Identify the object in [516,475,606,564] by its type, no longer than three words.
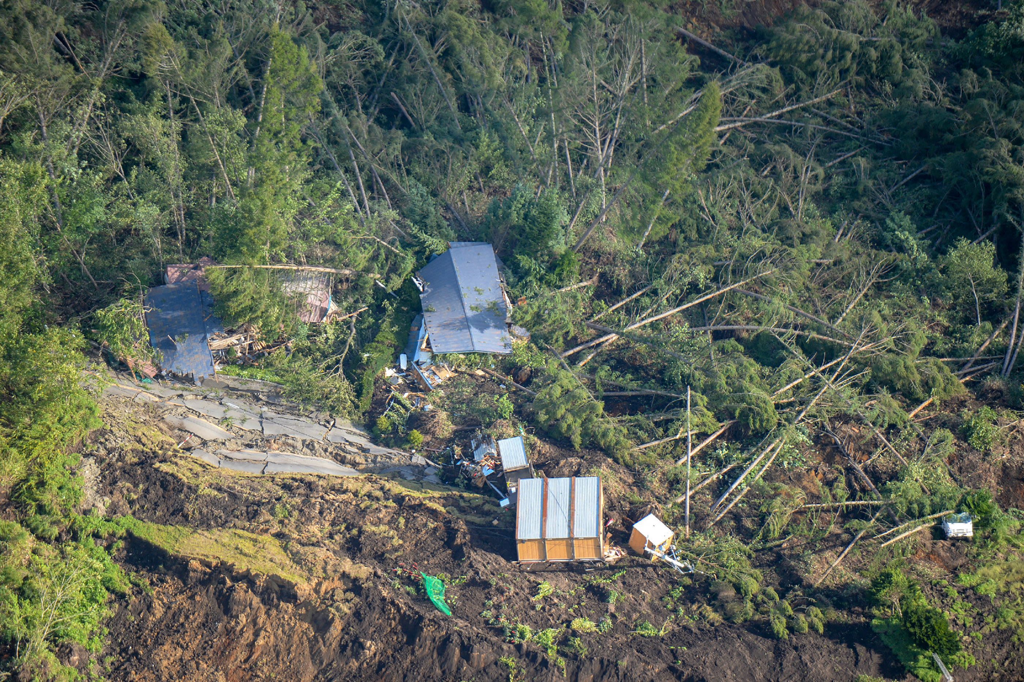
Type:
shed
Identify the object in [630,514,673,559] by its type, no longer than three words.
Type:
shed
